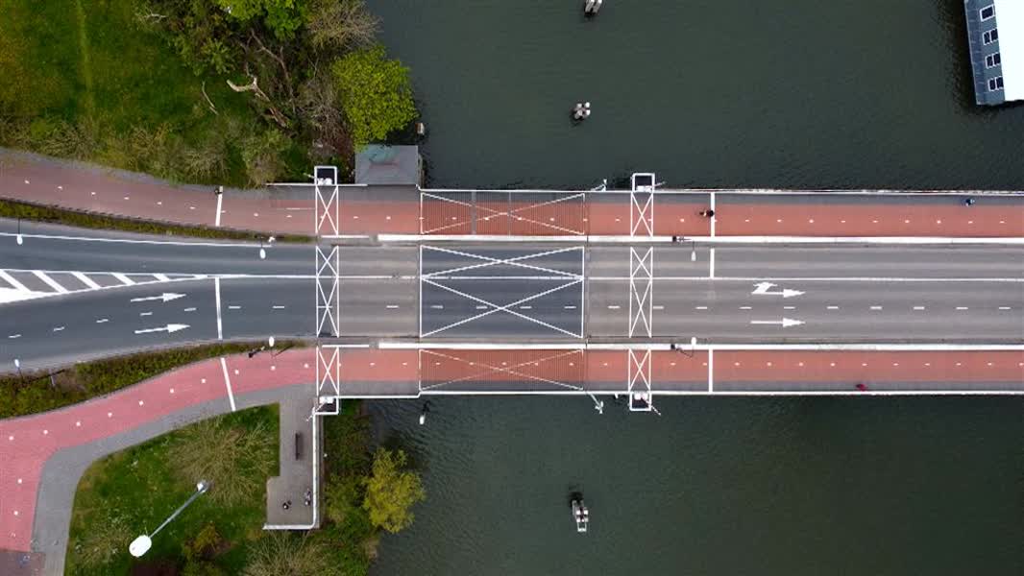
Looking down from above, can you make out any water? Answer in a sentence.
Yes, water shows up in the scene.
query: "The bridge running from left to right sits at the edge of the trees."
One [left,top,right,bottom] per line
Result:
[314,165,1024,414]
